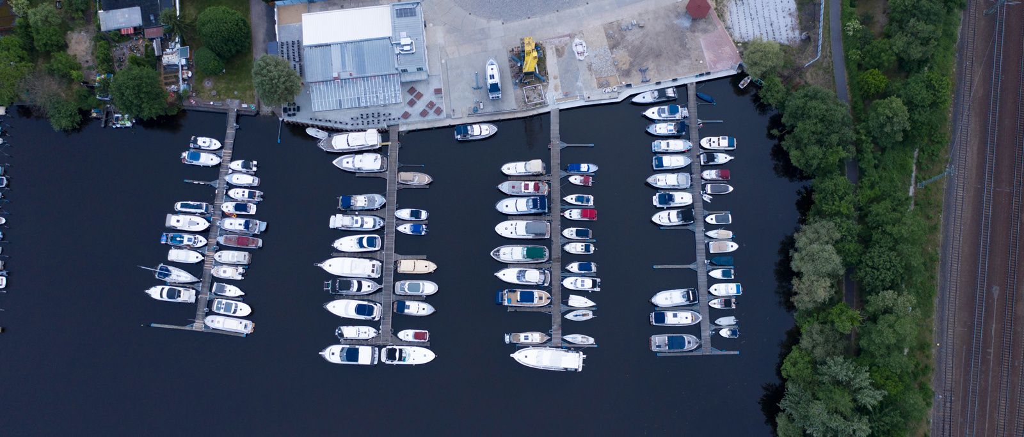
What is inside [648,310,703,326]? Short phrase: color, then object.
white boat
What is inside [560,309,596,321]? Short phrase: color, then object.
white boat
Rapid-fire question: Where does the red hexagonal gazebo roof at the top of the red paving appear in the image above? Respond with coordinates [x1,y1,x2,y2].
[686,0,709,21]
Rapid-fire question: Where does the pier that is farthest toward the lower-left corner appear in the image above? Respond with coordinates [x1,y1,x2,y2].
[151,112,259,337]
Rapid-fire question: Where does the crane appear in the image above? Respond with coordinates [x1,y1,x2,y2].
[509,35,548,92]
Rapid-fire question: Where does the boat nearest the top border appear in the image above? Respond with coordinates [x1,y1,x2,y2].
[573,40,586,62]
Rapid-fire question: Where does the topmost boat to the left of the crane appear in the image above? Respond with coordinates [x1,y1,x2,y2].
[486,58,501,102]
